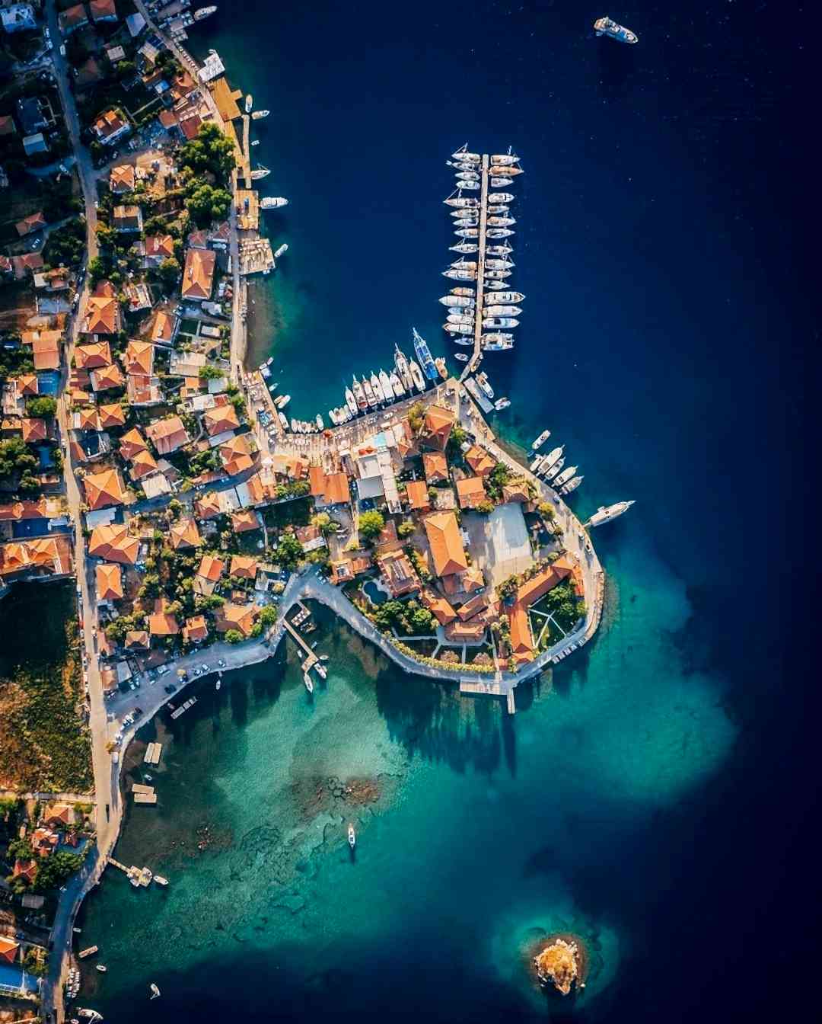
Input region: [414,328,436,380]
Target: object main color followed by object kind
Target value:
blue boat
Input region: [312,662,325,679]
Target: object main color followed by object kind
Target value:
white boat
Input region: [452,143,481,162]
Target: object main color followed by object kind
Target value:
white boat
